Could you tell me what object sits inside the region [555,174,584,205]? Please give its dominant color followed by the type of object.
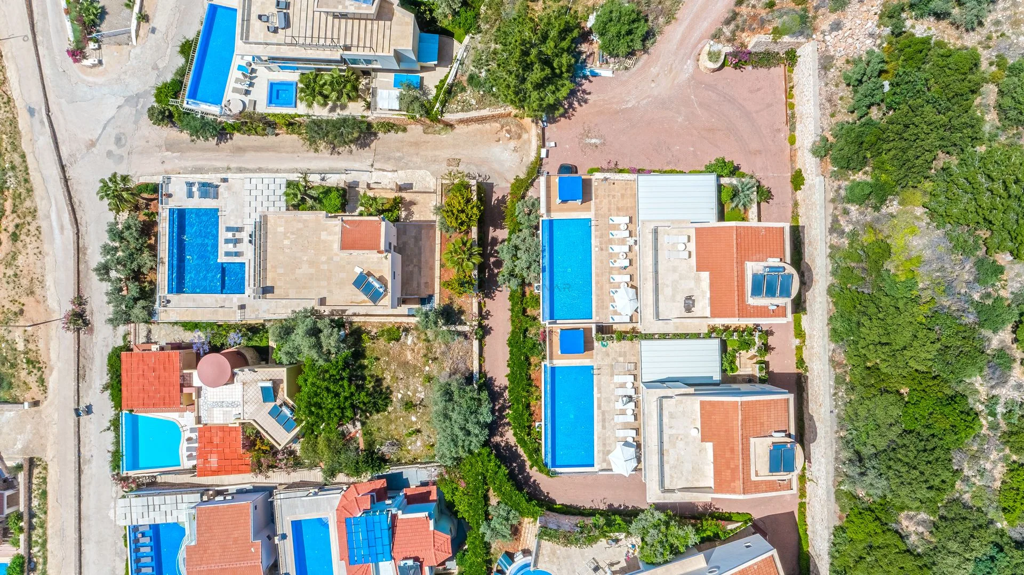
blue gazebo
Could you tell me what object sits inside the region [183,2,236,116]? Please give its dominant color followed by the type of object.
blue swimming pool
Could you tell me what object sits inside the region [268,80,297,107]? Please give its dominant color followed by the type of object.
blue swimming pool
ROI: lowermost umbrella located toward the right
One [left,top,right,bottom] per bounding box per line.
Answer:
[613,450,644,479]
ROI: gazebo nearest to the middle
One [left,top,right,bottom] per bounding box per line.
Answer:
[558,327,587,356]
